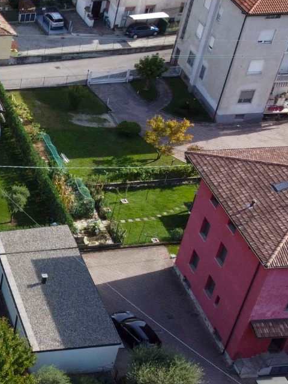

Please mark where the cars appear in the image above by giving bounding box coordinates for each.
[45,15,62,29]
[127,24,159,38]
[109,311,170,357]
